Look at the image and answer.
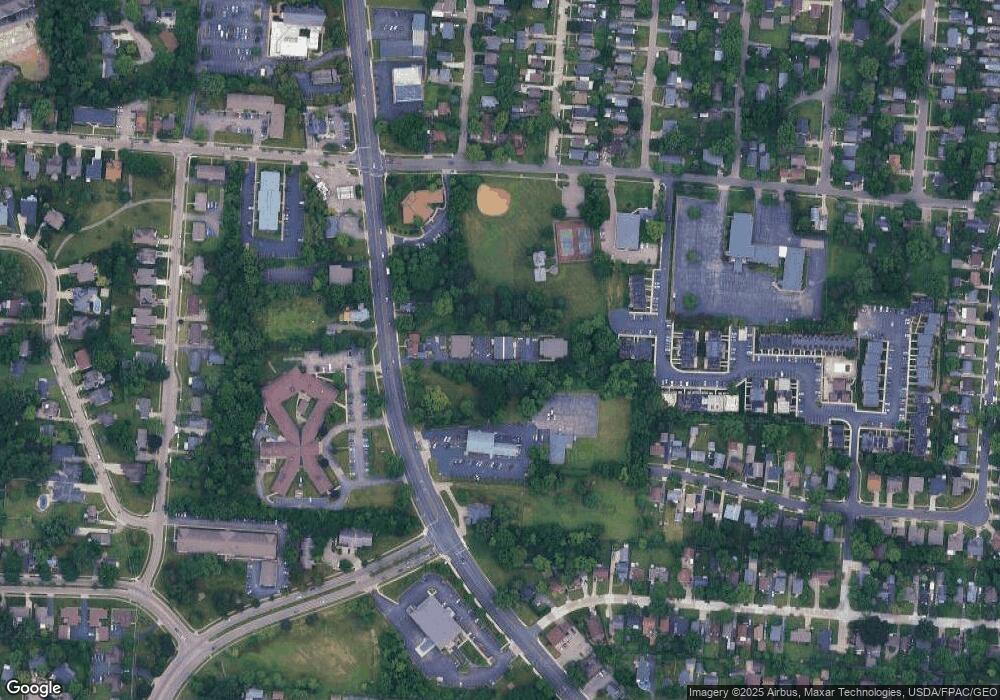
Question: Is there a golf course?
No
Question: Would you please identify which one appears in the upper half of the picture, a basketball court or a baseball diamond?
baseball diamond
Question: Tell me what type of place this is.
residential area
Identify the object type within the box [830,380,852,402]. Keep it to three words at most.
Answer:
building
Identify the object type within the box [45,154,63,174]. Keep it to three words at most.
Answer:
house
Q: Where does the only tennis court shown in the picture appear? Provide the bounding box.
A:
[554,220,594,262]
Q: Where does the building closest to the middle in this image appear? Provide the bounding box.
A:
[494,337,514,359]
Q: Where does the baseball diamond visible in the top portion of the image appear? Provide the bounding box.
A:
[464,176,561,299]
